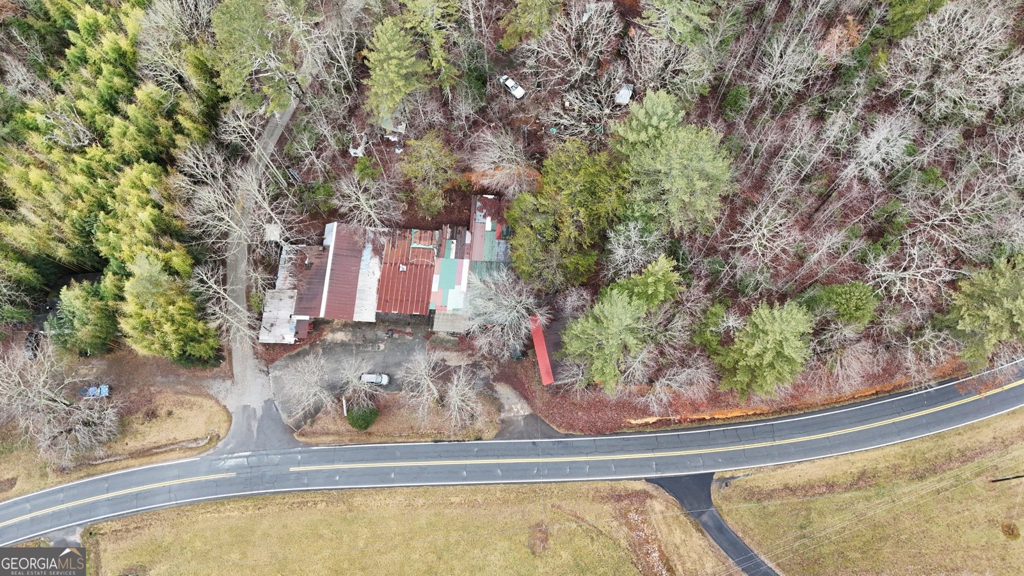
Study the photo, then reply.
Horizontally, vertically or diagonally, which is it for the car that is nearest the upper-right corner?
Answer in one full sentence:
The car that is nearest the upper-right corner runs diagonally in the image.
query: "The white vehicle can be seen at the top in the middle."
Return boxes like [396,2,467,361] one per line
[500,76,526,98]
